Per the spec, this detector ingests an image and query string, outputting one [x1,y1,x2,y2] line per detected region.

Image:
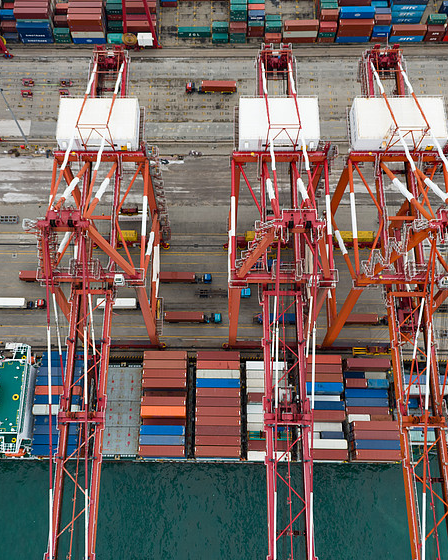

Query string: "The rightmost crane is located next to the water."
[316,43,448,560]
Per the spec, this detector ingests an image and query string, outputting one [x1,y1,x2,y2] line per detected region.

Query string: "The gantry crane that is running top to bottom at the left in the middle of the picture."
[16,43,174,560]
